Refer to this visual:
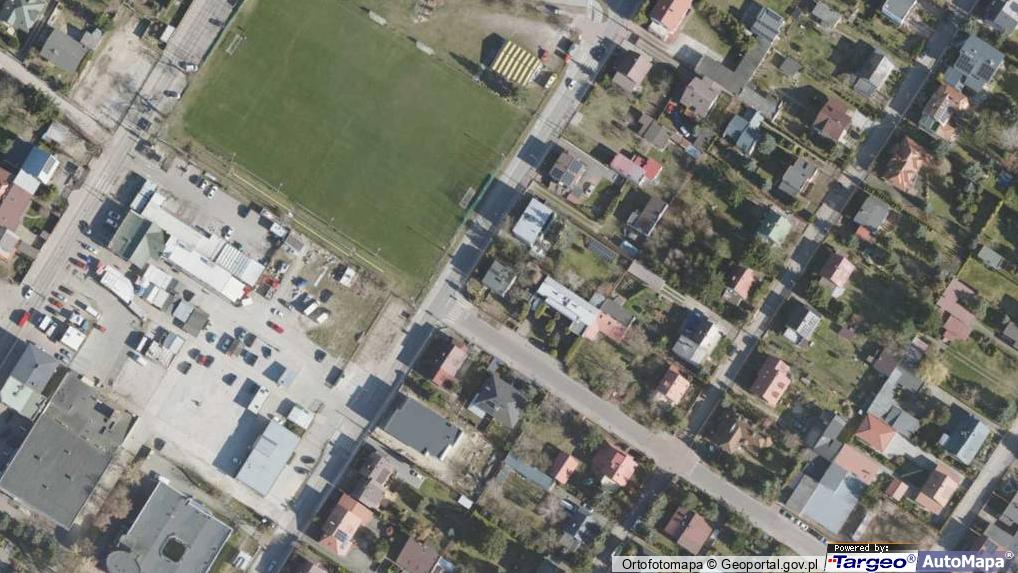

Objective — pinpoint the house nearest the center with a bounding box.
[480,260,525,297]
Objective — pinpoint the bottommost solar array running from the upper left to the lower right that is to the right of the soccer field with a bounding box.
[586,238,616,262]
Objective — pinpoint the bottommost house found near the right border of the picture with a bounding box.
[966,526,1005,565]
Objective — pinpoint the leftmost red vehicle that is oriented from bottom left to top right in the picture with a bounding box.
[18,311,31,326]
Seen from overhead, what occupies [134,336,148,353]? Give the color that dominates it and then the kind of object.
white vehicle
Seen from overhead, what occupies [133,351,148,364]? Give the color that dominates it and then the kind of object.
white vehicle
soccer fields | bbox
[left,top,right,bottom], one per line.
[182,0,528,293]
